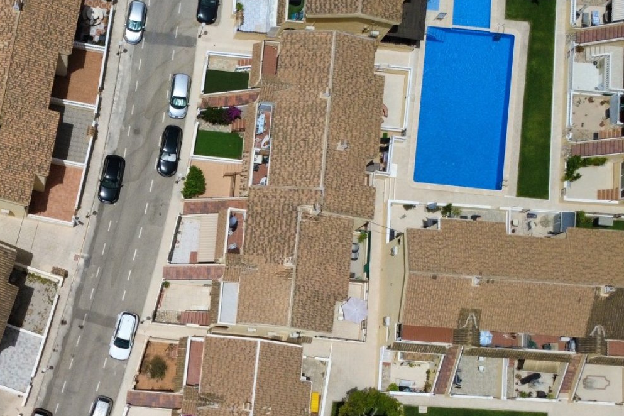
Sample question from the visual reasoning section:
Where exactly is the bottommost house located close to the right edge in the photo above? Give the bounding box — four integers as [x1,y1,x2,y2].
[383,219,624,368]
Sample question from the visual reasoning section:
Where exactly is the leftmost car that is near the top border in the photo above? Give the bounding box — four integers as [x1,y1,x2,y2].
[124,0,148,45]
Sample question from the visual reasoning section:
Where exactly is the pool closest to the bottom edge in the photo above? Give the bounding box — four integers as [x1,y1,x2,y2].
[413,27,513,190]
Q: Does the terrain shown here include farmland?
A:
No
